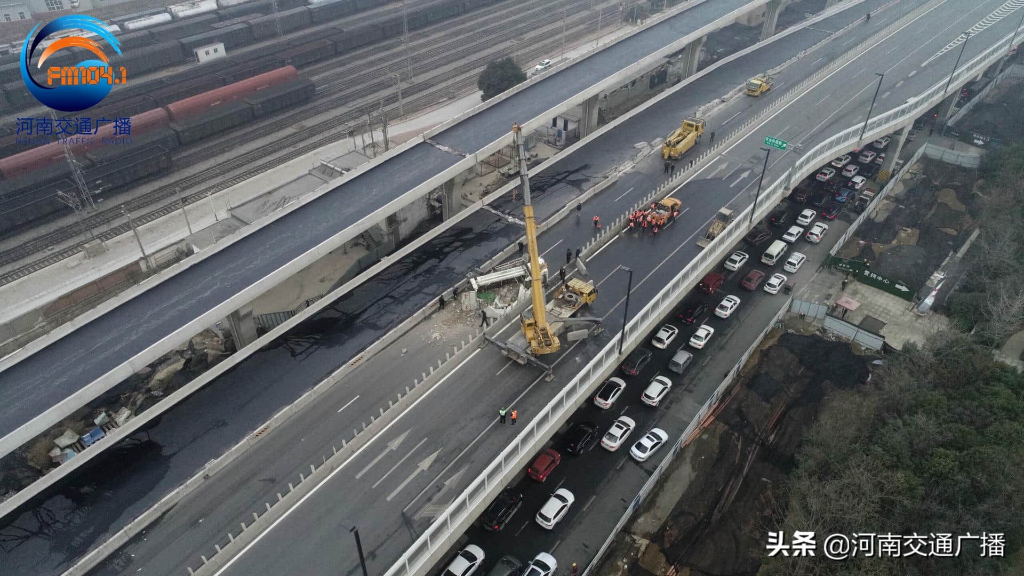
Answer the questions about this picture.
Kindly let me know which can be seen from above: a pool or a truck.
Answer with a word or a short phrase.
truck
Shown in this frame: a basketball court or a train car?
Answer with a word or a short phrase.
train car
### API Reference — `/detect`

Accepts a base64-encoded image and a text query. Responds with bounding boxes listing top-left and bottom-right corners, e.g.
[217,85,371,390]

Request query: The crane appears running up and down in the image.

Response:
[479,117,606,381]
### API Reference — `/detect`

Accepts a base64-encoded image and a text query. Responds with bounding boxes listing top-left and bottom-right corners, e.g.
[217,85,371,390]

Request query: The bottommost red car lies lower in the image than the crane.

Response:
[525,447,563,484]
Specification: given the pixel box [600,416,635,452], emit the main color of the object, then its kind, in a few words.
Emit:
white car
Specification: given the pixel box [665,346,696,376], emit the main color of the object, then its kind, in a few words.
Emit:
gray car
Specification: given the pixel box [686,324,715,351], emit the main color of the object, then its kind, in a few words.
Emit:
white car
